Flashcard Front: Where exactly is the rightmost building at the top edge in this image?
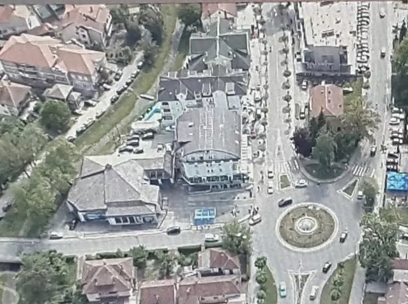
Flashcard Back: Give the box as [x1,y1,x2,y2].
[295,0,359,85]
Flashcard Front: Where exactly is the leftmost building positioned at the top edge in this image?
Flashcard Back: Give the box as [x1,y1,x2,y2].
[0,1,29,31]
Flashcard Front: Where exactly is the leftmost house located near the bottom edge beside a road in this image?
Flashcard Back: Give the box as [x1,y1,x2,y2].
[82,259,134,304]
